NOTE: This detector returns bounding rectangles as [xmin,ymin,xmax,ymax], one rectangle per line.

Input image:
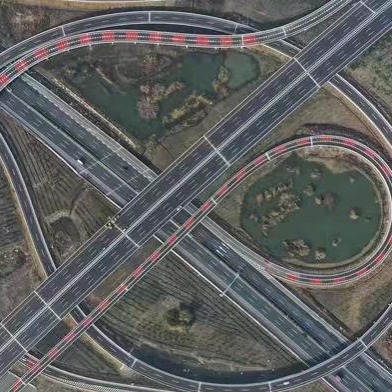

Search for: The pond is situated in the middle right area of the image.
[243,157,381,263]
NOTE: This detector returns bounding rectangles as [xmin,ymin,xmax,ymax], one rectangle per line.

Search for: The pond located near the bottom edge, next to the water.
[141,349,296,384]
